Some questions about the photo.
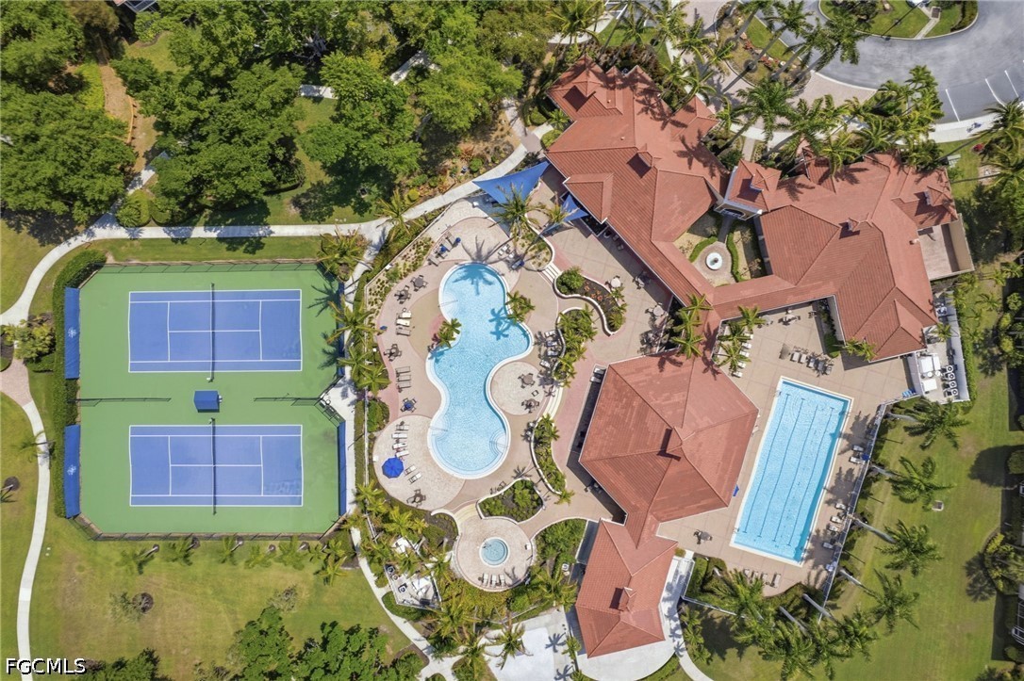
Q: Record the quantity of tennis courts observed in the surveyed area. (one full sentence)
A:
Altogether the scene contains 2 tennis courts.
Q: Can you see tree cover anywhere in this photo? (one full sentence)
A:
Yes, the picture does contain tree cover.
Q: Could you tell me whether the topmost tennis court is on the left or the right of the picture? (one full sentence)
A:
You can find the topmost tennis court on the left side of the picture.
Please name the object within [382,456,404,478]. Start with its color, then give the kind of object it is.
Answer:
blue umbrella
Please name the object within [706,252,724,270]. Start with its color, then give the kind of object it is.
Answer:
white fountain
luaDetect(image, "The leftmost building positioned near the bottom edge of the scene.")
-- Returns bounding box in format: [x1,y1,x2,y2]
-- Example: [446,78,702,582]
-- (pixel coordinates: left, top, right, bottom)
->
[575,508,679,660]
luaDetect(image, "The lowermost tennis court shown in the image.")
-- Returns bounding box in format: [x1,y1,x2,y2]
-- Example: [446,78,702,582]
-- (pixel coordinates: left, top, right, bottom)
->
[80,399,338,535]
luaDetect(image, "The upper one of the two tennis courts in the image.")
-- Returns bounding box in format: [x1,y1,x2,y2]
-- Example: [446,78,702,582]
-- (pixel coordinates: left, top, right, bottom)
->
[80,264,337,401]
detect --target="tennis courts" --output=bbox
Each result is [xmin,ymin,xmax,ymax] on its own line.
[80,399,338,535]
[80,264,337,401]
